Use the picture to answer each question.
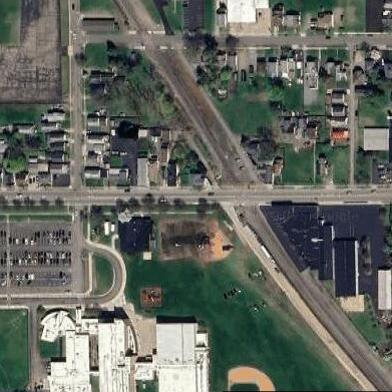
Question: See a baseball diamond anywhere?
Yes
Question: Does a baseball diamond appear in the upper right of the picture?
No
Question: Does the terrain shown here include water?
No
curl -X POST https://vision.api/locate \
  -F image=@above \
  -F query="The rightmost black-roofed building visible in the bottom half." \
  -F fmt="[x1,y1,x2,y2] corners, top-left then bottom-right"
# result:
[333,240,357,296]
